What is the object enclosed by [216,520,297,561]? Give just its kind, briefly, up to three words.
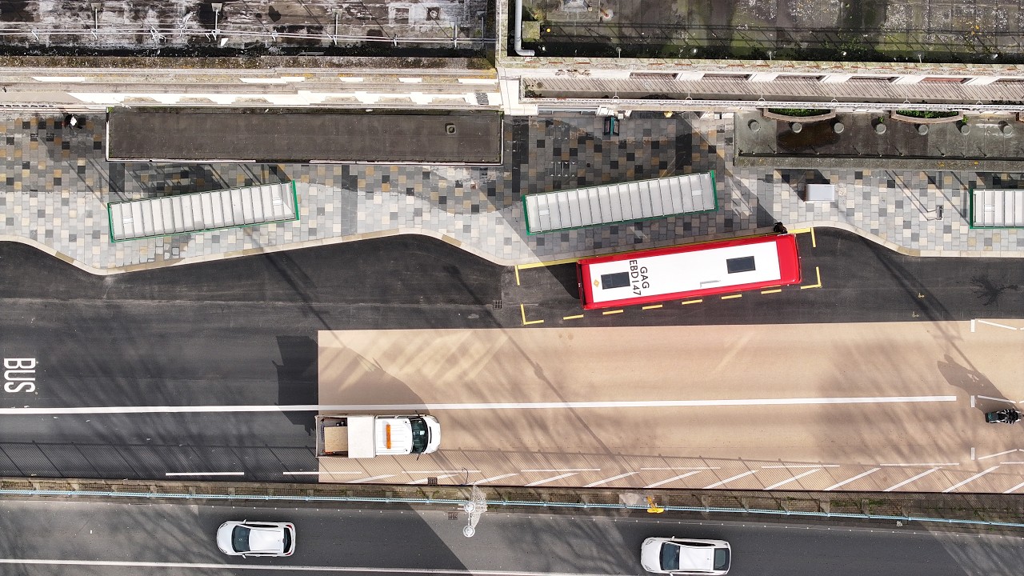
car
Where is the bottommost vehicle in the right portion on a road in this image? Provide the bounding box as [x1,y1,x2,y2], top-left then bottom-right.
[640,535,732,576]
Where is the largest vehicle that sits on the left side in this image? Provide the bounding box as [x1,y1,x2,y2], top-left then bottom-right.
[315,409,441,463]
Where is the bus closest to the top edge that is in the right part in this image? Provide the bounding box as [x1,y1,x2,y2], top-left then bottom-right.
[571,232,803,310]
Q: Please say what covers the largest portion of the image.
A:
paved ground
